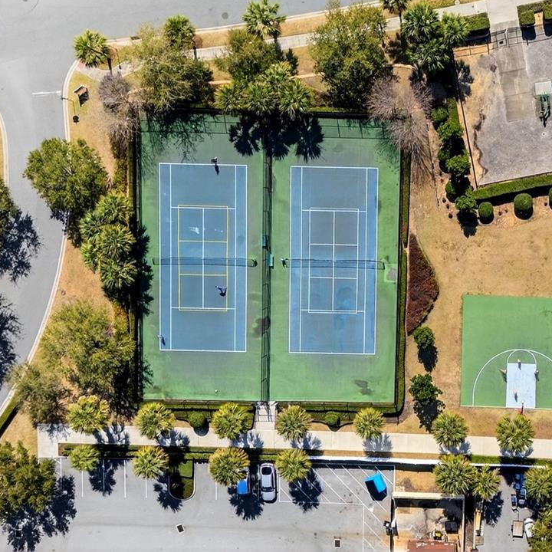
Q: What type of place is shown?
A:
sports ground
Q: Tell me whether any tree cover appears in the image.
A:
Yes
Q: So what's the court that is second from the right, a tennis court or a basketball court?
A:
tennis court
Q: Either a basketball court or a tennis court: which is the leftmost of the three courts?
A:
tennis court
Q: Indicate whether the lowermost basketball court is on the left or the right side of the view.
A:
right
